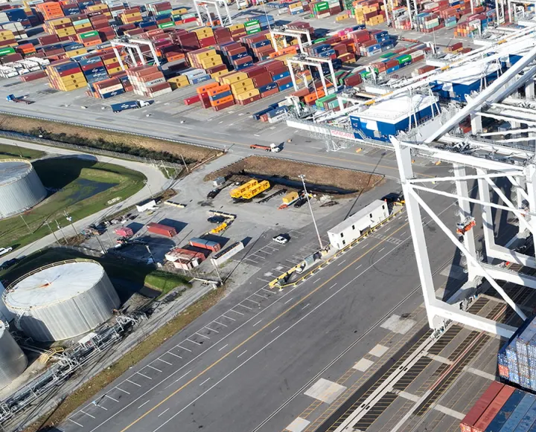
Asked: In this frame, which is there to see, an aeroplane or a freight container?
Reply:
freight container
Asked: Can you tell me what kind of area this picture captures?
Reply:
industrial area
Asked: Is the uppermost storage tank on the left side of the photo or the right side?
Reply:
left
